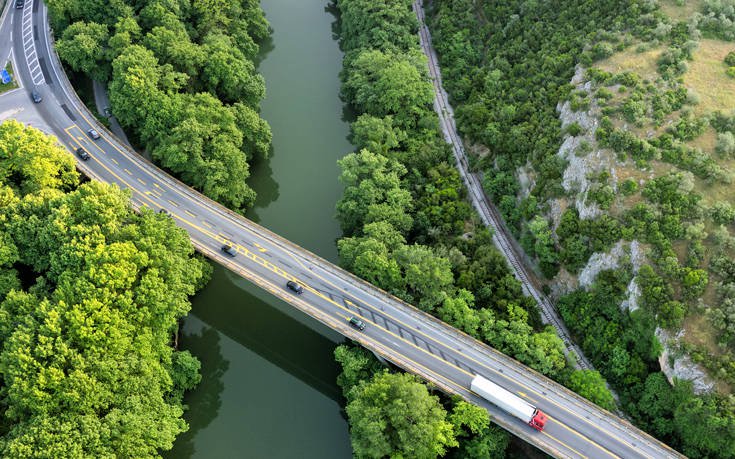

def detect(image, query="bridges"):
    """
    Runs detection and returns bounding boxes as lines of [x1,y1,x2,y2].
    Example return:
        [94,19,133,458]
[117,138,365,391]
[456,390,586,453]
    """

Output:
[52,116,699,459]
